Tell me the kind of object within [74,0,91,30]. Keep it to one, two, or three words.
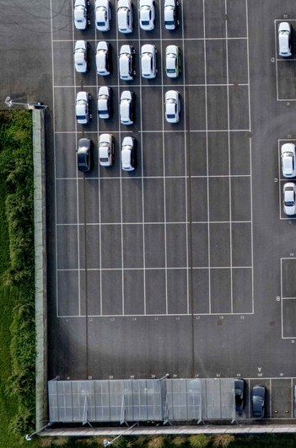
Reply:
car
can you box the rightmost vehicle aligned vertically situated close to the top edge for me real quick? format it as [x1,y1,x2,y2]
[276,21,293,57]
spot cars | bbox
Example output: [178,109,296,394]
[163,89,182,124]
[75,90,94,125]
[94,0,113,33]
[116,0,135,34]
[140,0,157,32]
[120,90,137,125]
[276,21,293,57]
[283,181,296,216]
[280,142,296,178]
[235,379,246,417]
[76,139,95,171]
[74,39,92,73]
[118,44,137,80]
[163,0,180,31]
[164,43,182,79]
[251,384,268,420]
[74,0,91,30]
[97,84,115,120]
[96,40,114,76]
[122,136,139,172]
[98,132,117,168]
[140,43,158,79]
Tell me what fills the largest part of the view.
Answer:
paved ground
